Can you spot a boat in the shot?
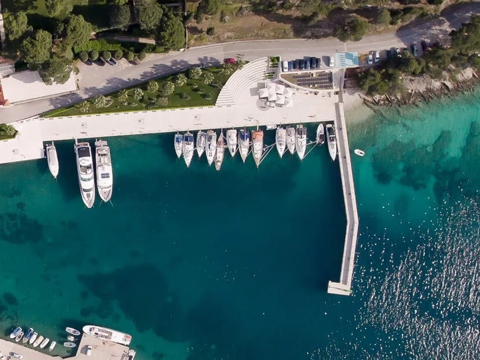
Yes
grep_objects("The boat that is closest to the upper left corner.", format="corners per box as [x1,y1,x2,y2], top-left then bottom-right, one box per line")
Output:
[46,143,59,178]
